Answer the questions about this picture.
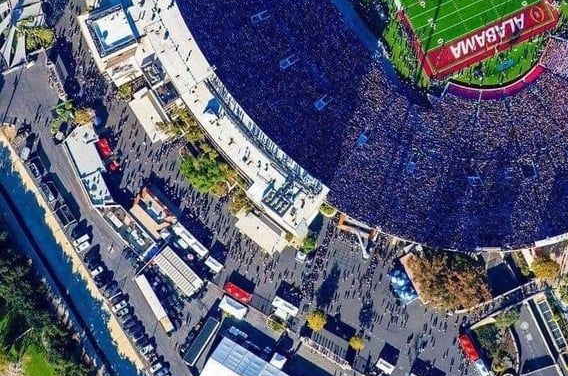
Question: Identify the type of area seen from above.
sports ground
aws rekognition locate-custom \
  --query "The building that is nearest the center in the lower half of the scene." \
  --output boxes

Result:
[235,209,285,255]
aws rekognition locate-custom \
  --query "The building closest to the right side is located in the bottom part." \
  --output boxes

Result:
[534,292,568,357]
